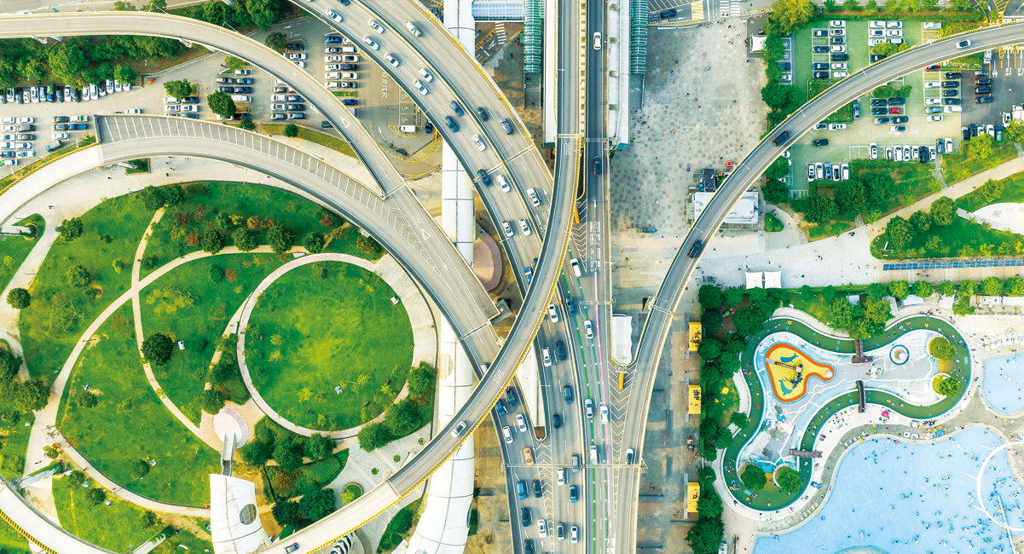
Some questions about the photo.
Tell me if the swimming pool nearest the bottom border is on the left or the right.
right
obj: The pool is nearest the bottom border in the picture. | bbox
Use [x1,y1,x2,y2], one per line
[750,423,1024,554]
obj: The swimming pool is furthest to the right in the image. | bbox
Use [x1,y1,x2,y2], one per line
[978,349,1024,418]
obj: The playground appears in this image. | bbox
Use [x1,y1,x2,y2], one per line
[741,332,941,476]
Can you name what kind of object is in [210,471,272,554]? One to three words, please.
building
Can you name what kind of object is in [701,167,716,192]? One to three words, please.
building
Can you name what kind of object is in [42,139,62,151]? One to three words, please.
vehicle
